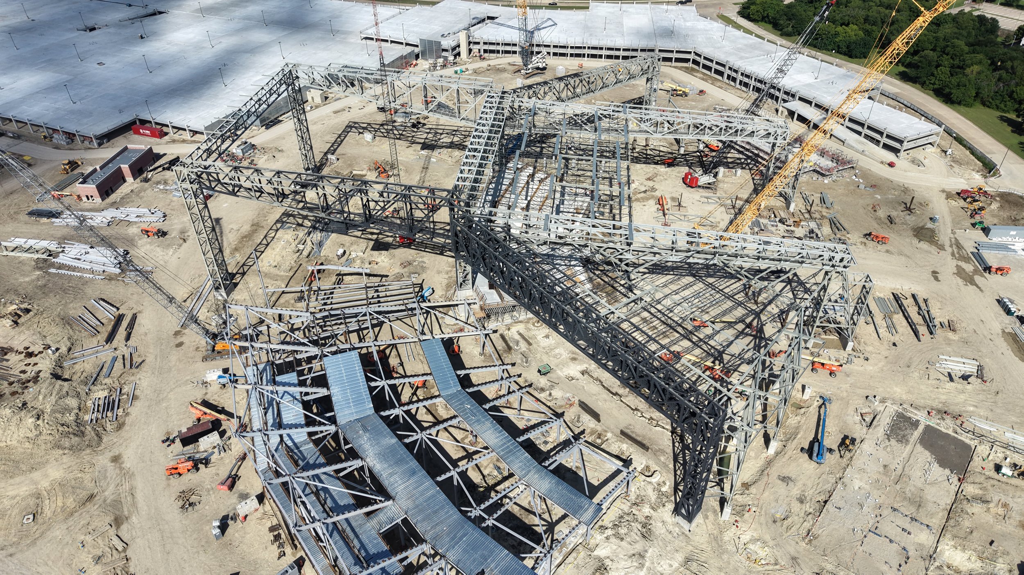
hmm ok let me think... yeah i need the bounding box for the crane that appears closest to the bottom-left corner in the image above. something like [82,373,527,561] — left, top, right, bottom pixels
[191,327,254,363]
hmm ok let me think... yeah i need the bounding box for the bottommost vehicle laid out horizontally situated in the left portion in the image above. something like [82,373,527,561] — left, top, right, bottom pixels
[160,453,215,476]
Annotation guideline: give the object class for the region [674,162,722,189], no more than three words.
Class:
crane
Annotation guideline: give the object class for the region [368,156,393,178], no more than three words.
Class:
work vehicle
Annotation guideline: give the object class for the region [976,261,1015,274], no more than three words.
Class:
vehicle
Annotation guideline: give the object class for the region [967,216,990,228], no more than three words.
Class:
vehicle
